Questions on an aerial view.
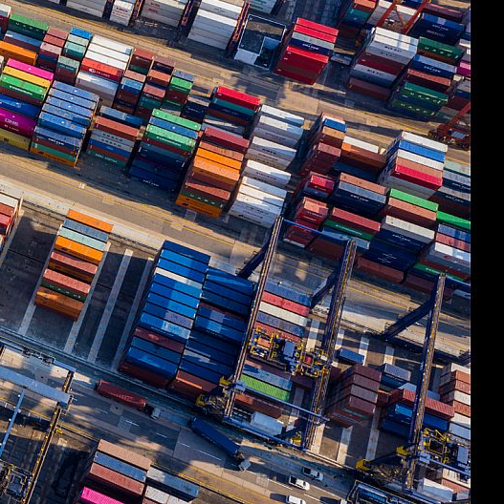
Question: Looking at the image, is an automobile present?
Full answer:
Yes, this view includes an automobile.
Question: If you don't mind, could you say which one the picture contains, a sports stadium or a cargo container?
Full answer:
I can see a cargo container in this picture.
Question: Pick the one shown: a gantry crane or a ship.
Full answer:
Of the two, only a gantry crane appears.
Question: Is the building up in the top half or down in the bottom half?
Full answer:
The building sits in the top half of the picture.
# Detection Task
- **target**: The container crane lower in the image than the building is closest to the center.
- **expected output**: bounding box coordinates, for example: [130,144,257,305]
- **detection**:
[195,213,362,452]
